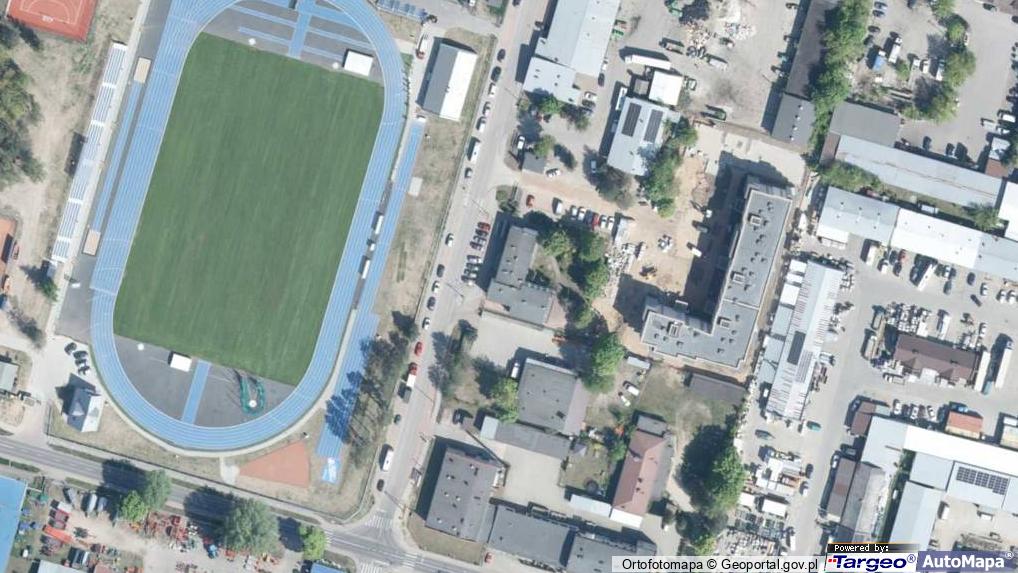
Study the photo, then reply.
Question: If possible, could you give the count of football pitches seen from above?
one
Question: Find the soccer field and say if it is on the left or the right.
left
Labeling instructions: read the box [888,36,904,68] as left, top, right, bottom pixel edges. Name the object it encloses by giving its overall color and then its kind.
white vehicle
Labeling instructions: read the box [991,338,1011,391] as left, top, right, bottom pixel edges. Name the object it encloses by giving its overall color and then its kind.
white vehicle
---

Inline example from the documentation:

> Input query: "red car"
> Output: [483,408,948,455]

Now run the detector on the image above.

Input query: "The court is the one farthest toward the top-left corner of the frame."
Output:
[5,0,95,39]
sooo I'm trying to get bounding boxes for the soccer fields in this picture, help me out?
[116,31,384,385]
